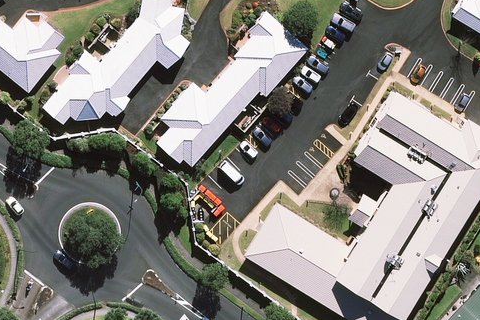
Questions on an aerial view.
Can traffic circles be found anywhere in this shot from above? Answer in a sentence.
Yes, a traffic circle is visible in the scene.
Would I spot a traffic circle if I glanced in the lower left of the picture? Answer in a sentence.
Yes, looking in the lower left of the picture, one can make out a traffic circle.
